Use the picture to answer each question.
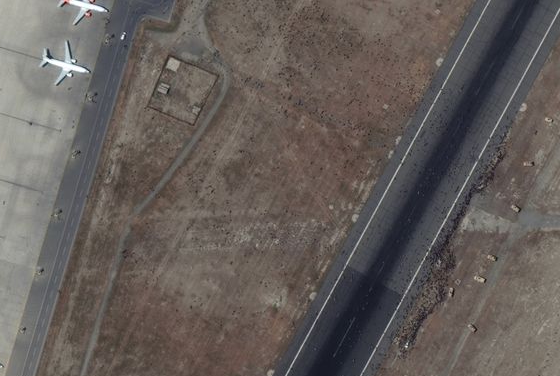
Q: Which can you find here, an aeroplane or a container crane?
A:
aeroplane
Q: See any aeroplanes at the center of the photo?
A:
No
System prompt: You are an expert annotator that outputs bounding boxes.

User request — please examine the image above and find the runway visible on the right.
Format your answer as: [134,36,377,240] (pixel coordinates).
[273,0,560,376]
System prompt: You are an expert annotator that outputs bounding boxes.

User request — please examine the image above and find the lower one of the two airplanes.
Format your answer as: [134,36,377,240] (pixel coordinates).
[41,42,89,84]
